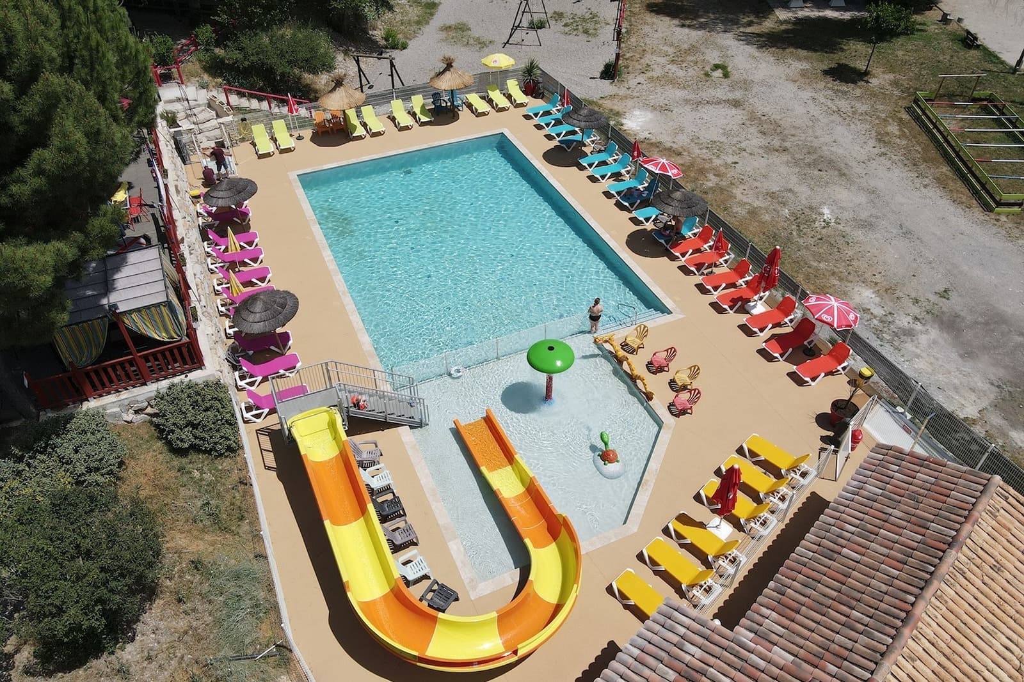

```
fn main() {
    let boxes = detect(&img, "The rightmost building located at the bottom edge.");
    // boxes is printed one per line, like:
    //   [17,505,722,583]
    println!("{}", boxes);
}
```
[725,443,1024,682]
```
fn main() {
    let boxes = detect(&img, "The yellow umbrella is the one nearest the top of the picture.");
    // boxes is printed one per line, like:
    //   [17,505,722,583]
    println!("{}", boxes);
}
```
[474,51,508,69]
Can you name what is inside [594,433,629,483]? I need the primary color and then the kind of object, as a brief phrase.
white fountain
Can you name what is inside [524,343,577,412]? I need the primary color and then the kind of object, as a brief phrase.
green fountain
